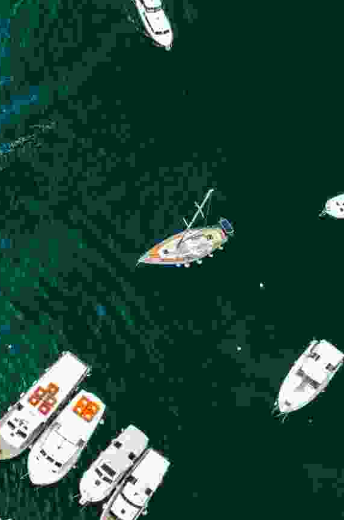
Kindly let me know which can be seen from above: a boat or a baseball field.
boat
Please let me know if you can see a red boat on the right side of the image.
No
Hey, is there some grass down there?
No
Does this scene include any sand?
No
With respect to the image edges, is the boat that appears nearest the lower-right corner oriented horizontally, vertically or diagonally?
diagonally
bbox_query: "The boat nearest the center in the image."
[136,197,233,267]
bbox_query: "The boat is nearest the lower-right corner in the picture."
[275,338,341,412]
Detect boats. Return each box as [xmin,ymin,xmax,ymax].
[0,346,91,457]
[136,197,233,267]
[275,338,341,412]
[139,0,173,51]
[33,387,108,484]
[101,447,171,520]
[322,197,344,219]
[78,422,150,510]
